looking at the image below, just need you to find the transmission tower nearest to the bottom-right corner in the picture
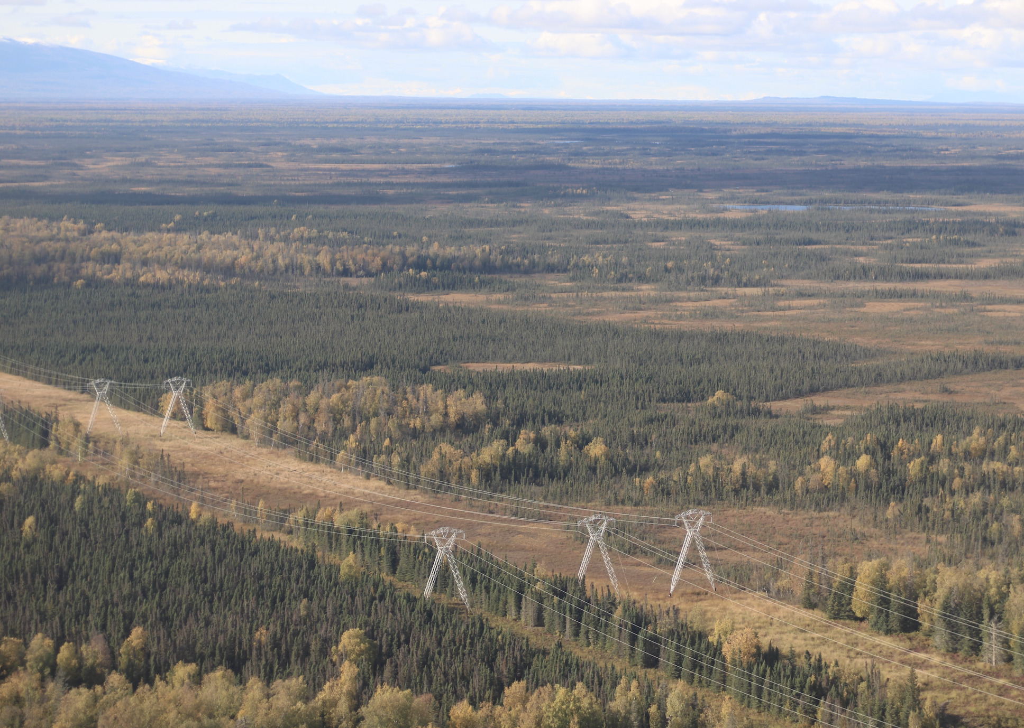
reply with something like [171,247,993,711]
[669,508,728,595]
